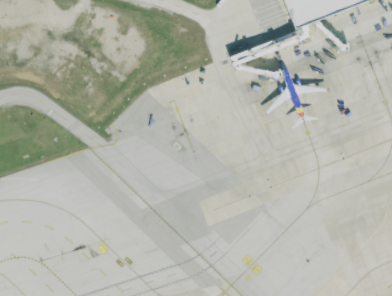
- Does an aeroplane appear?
Yes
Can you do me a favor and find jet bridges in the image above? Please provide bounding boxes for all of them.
[234,64,285,78]
[316,21,352,52]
